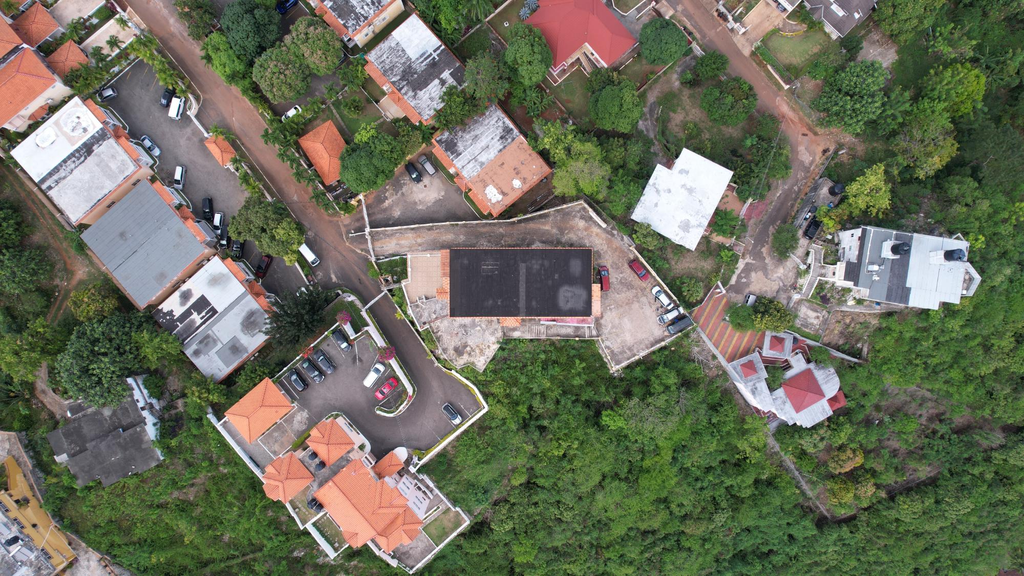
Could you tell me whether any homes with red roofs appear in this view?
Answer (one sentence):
Yes, a home with a red roof can be made out from above.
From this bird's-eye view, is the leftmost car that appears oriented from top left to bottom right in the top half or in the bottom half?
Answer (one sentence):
You can find the leftmost car that appears oriented from top left to bottom right in the top half.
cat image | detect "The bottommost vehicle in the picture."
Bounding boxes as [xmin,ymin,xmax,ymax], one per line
[440,399,463,428]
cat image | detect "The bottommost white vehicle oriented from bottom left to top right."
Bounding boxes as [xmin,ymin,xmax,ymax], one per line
[362,361,387,390]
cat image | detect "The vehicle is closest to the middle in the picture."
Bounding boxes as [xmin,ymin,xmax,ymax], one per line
[598,265,612,293]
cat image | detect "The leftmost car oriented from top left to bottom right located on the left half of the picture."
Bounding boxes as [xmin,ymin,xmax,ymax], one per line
[139,131,163,160]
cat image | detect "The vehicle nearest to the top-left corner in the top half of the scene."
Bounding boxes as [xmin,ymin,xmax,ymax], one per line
[94,86,123,104]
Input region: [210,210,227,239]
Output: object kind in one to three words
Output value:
car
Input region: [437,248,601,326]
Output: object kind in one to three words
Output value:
building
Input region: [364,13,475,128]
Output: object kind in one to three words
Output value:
house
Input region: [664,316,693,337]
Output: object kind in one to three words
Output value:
vehicle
